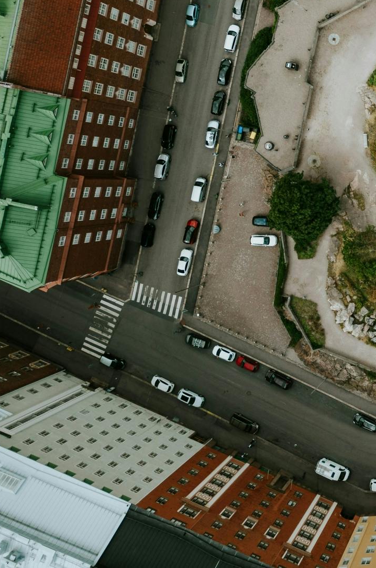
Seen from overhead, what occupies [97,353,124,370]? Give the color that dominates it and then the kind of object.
black car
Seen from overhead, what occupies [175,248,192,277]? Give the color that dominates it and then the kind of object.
white car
